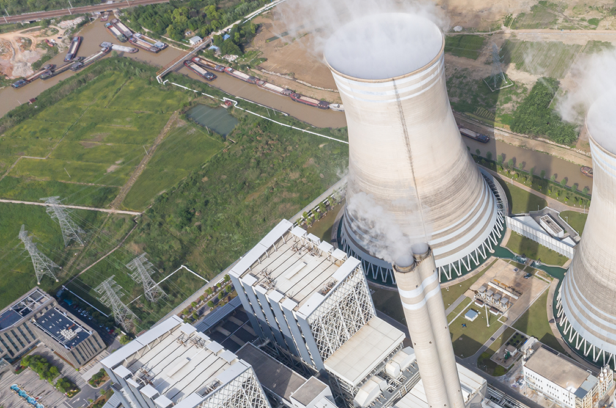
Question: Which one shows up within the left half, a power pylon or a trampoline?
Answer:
power pylon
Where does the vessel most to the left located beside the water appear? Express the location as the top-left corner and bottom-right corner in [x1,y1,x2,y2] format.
[8,63,52,87]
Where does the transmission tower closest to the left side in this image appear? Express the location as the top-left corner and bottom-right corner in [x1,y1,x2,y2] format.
[10,229,61,285]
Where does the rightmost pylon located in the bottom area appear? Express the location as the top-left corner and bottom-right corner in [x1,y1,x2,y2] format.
[131,254,172,305]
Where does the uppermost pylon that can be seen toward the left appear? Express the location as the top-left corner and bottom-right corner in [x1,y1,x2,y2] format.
[37,199,89,249]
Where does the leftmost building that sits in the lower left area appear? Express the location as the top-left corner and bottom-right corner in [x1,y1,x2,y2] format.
[0,287,57,361]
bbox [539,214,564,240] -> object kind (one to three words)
building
